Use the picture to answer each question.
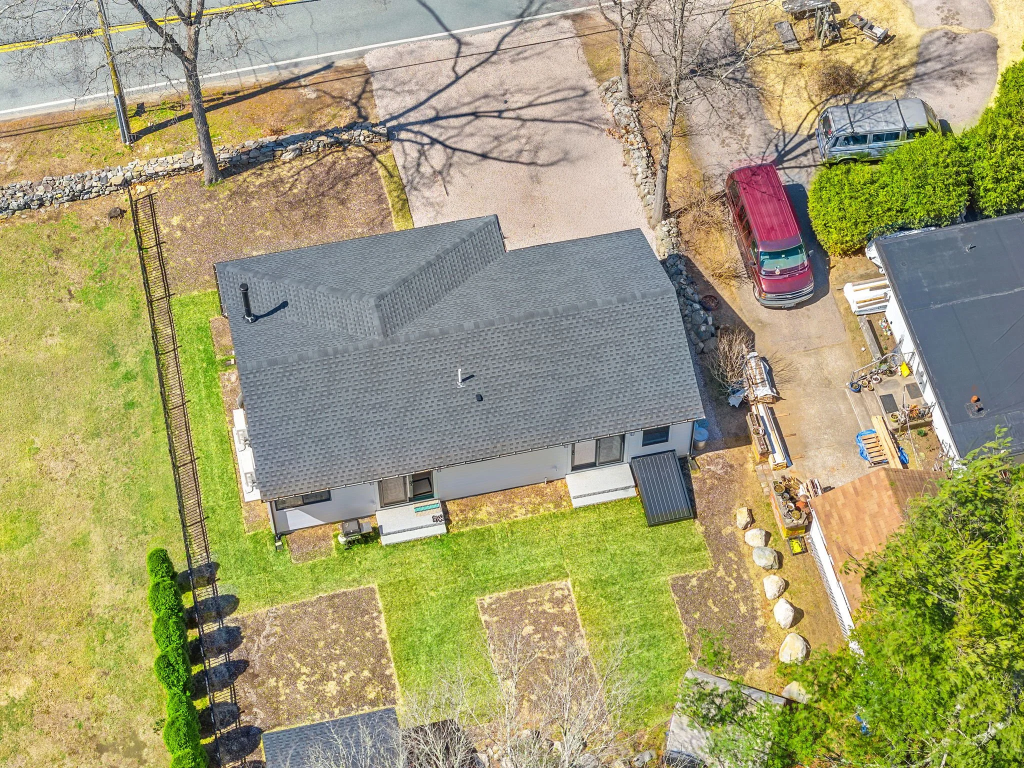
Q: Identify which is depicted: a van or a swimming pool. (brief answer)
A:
van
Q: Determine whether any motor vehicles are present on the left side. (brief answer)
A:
No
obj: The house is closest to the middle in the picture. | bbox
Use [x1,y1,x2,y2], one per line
[212,212,705,541]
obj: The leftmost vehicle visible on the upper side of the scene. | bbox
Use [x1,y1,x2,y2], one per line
[722,160,818,309]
